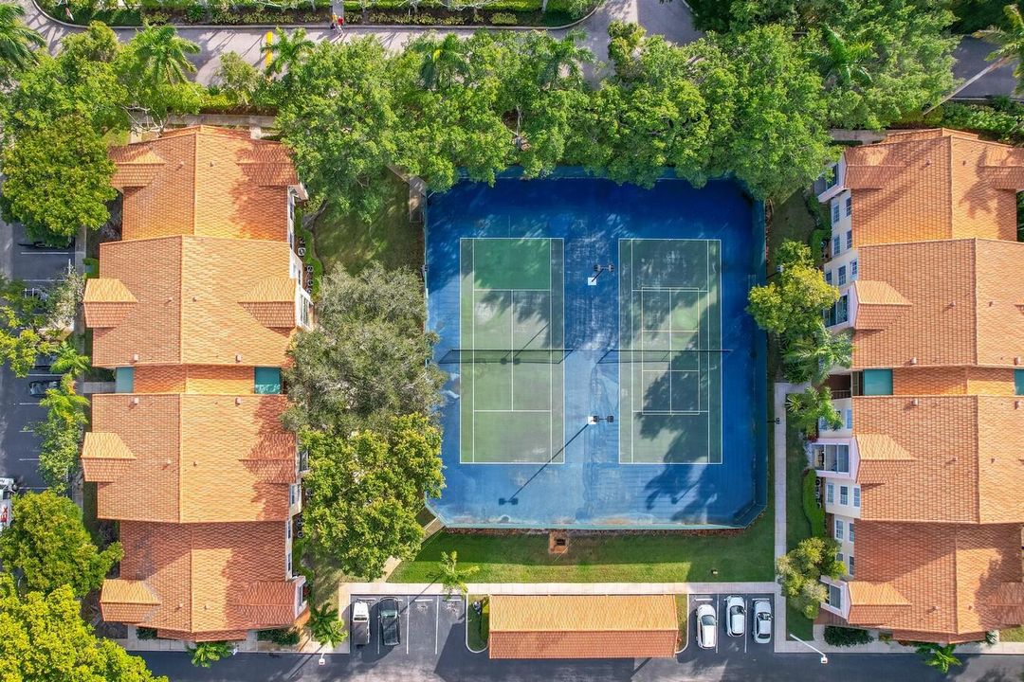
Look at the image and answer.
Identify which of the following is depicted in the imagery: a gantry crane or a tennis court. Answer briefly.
tennis court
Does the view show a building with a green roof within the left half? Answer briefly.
No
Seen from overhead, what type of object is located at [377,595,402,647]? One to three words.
car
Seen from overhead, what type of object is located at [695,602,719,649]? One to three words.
car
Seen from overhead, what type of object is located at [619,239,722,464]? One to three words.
tennis court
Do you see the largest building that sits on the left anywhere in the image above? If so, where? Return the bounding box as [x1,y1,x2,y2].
[74,124,315,642]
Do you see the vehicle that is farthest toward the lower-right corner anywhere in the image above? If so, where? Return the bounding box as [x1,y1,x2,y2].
[750,599,775,644]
